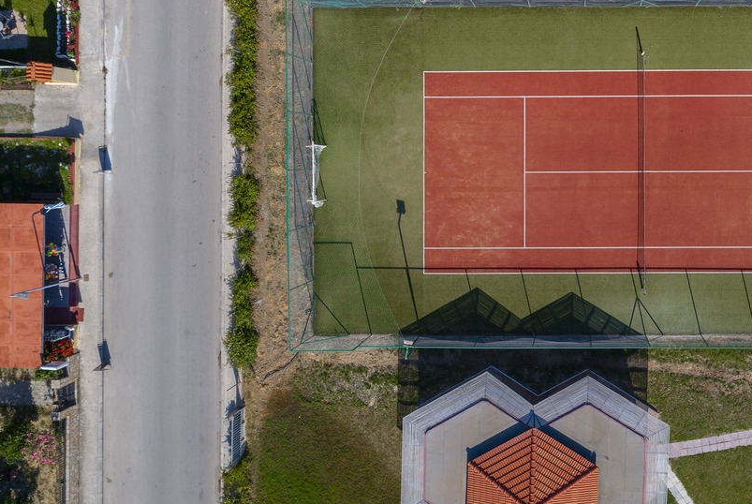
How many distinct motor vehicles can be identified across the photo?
zero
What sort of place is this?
sports ground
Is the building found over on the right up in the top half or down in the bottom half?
bottom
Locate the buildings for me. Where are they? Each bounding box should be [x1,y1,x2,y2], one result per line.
[402,367,670,504]
[0,203,70,368]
